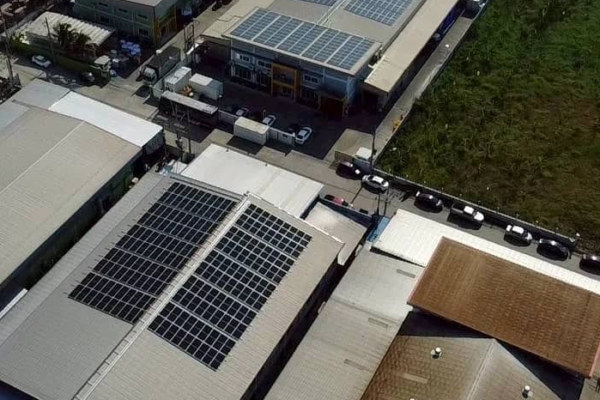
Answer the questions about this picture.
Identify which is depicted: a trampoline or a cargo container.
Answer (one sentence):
The one in the frame is a cargo container.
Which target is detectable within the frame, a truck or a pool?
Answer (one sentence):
The one in the frame is a truck.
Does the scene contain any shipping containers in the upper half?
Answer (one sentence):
Yes, a shipping container shows up in the upper half.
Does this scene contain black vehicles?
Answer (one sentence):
Yes, the frame does contain a black vehicle.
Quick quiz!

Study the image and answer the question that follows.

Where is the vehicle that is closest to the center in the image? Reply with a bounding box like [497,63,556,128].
[320,190,346,207]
